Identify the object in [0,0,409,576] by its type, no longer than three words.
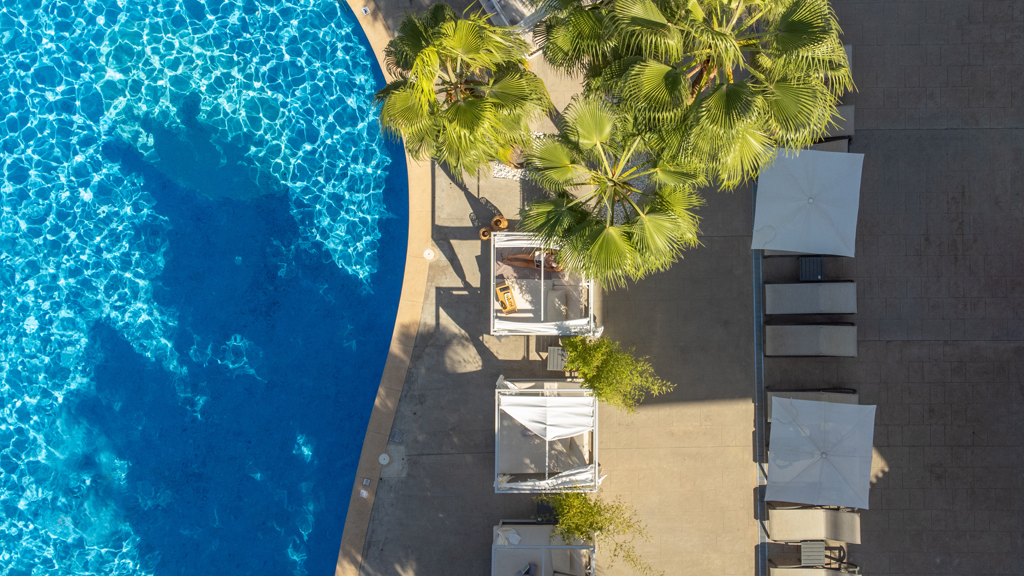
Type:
swimming pool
